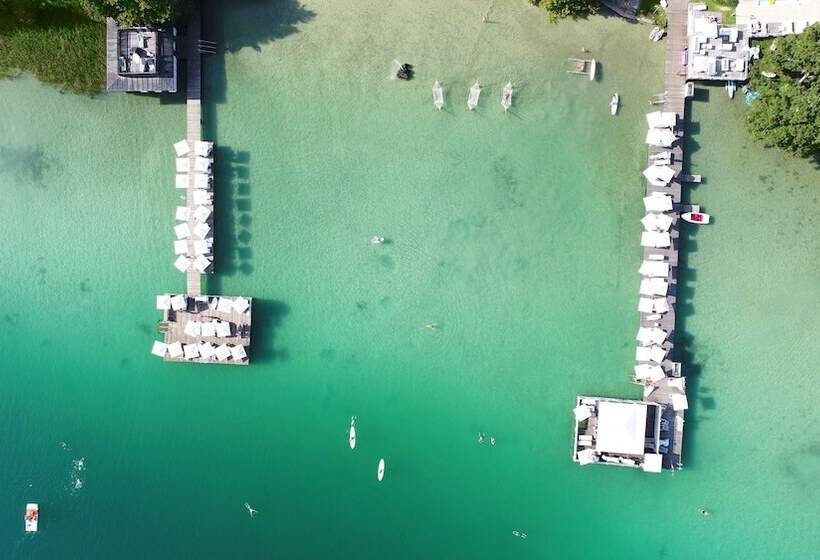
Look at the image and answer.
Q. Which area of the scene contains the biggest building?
top left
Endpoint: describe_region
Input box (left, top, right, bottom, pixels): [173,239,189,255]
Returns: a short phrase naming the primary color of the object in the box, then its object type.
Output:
white umbrella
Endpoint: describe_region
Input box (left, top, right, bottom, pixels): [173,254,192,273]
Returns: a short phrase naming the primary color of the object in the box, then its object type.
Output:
white umbrella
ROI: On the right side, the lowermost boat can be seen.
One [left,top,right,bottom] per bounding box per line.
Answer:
[681,212,712,224]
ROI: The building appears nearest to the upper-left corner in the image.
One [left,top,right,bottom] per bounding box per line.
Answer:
[107,16,187,101]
